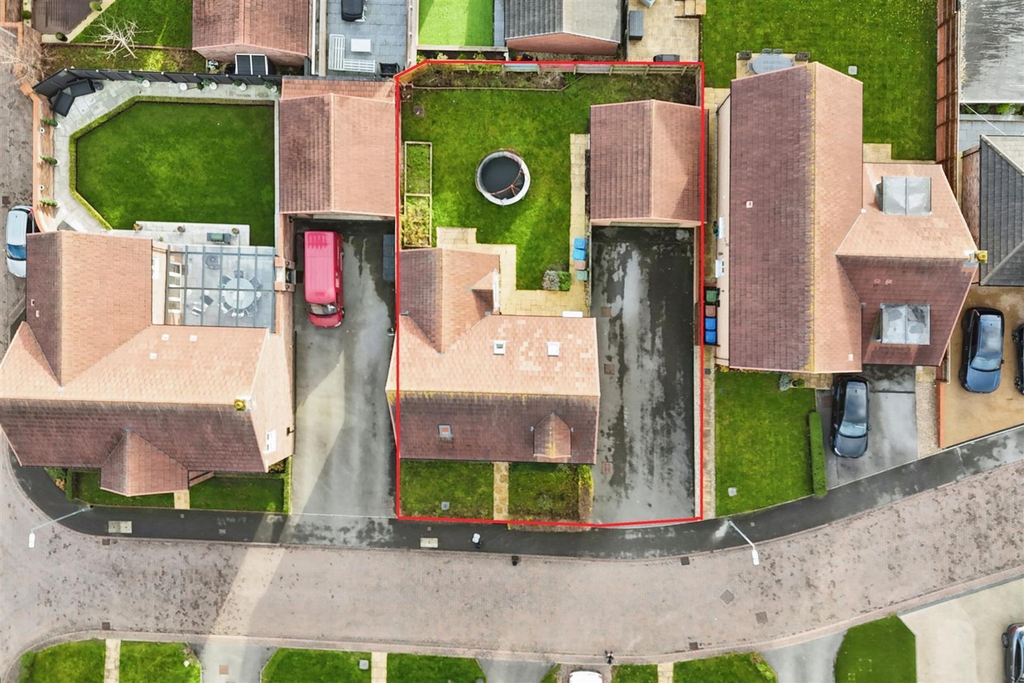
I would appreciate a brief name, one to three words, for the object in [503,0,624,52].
building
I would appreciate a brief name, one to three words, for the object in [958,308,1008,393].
car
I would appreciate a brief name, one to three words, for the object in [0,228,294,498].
house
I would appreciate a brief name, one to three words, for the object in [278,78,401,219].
building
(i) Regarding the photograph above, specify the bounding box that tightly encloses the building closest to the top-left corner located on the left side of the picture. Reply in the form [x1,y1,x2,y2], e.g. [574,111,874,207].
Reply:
[191,0,316,63]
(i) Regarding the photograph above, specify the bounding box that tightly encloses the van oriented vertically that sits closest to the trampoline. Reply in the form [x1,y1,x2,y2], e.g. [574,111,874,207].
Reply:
[302,231,347,326]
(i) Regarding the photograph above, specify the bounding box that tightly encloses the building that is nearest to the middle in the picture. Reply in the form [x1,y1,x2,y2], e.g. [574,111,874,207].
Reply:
[386,246,602,463]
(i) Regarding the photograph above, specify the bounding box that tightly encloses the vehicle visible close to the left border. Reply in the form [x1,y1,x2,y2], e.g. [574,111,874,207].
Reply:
[5,208,48,281]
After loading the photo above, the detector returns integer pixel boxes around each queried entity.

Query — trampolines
[476,151,529,205]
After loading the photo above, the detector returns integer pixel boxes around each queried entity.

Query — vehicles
[958,308,1008,393]
[998,620,1024,683]
[302,231,347,326]
[1011,314,1024,400]
[5,208,48,281]
[829,374,875,459]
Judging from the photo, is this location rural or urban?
urban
